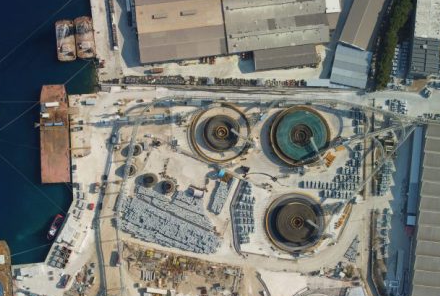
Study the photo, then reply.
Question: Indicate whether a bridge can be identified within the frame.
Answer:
No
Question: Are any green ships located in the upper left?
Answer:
No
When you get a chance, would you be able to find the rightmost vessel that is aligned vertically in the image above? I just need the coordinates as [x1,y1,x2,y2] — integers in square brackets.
[75,15,95,58]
